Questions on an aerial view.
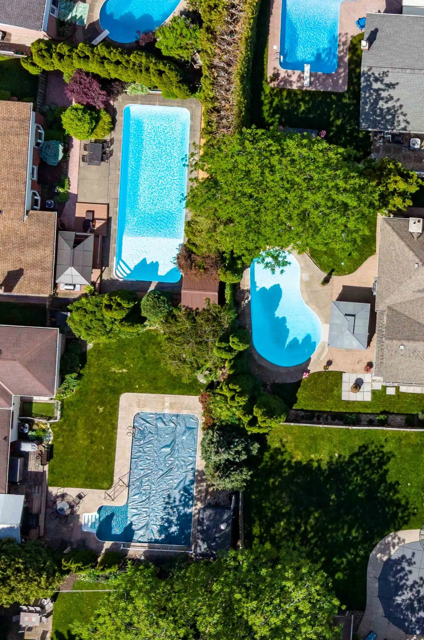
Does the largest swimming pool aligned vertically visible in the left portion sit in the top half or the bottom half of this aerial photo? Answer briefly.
top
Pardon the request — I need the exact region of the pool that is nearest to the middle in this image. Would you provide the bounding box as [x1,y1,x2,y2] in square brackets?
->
[249,250,323,368]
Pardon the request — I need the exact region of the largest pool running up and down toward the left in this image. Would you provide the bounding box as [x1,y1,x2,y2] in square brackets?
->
[114,104,191,283]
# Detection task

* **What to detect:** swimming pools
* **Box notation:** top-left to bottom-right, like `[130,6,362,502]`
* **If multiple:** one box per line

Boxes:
[249,250,323,368]
[273,0,355,74]
[99,0,182,43]
[82,412,199,547]
[114,104,191,283]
